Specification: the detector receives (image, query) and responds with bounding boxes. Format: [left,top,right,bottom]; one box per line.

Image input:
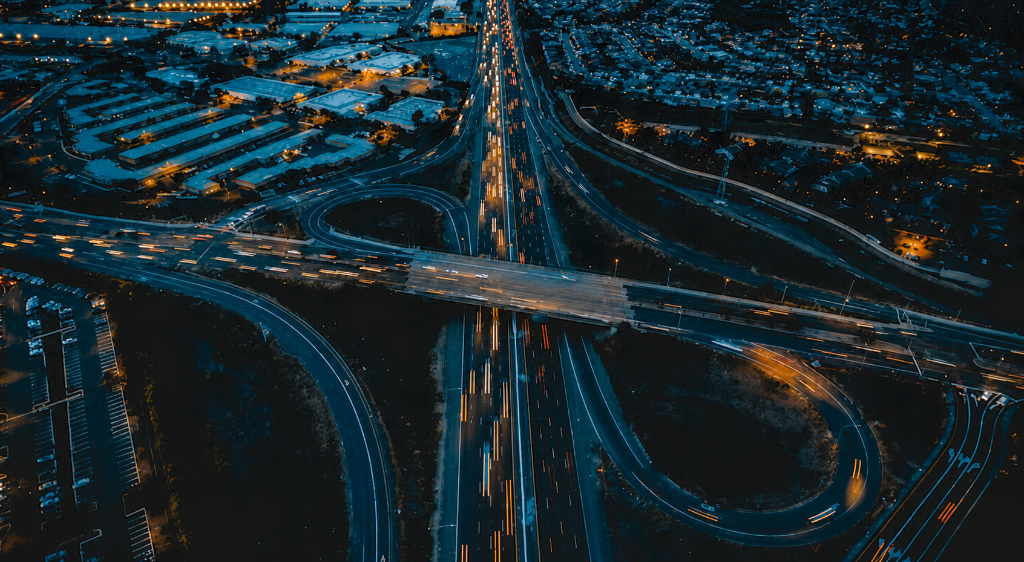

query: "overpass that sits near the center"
[406,250,639,330]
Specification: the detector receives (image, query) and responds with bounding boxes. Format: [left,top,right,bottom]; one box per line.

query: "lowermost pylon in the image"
[714,151,738,203]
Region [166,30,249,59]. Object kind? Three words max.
building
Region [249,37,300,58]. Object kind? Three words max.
building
